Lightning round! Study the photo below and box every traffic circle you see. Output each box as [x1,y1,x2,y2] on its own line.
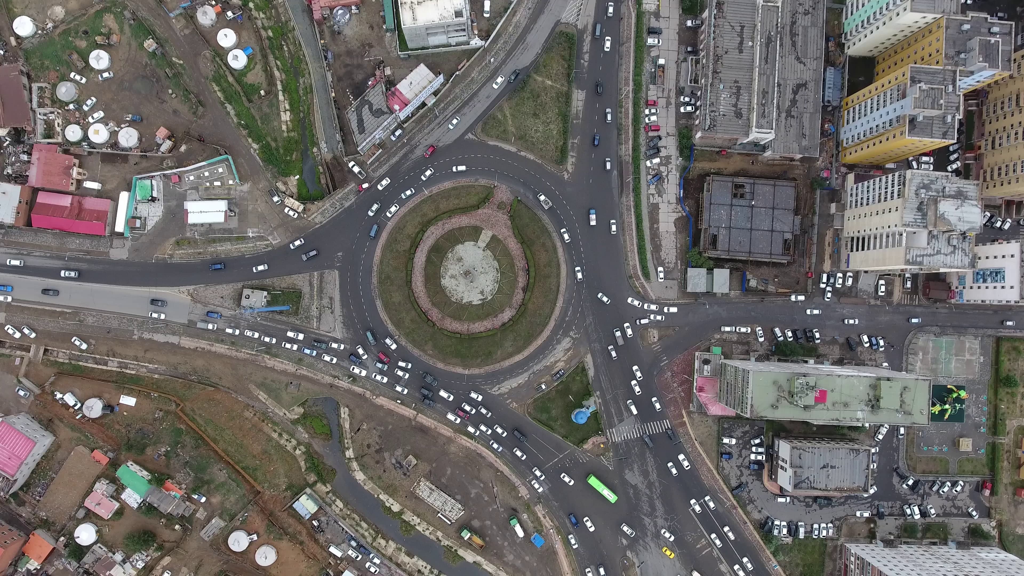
[374,179,565,371]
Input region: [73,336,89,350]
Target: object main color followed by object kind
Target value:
white car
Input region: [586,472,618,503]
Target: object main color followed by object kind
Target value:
green bus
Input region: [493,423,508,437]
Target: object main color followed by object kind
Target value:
white car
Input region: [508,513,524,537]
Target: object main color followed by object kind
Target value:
white vehicle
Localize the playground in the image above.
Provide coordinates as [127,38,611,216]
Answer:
[908,334,1005,472]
